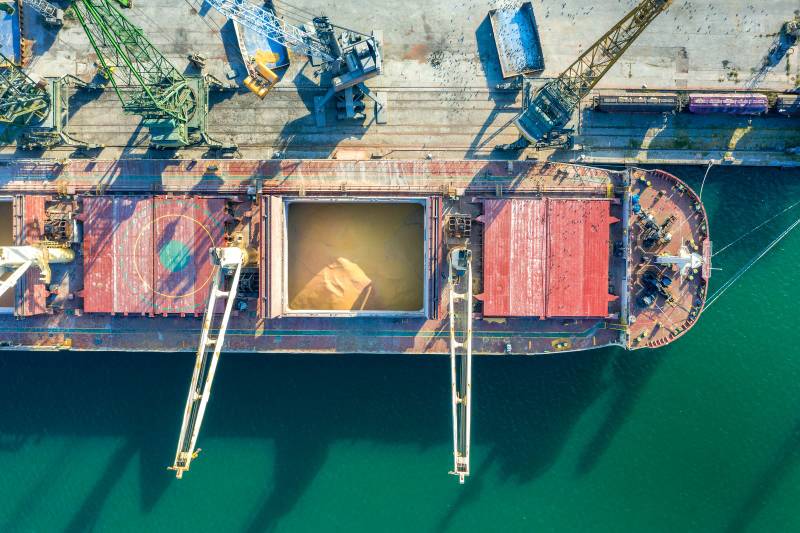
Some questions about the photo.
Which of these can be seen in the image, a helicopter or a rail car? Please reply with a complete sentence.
There is a rail car in the scene.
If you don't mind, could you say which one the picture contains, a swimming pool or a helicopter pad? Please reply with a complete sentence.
The image shows a helicopter pad.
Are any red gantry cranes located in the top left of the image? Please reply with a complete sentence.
No, no red gantry crane can be made out in the top left of the image.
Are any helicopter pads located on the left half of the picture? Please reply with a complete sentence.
Yes, a helicopter pad can be seen on the left half of the picture.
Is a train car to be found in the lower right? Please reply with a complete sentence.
No, in the lower right there is no train car.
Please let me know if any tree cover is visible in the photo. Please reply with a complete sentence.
No, tree cover can't be seen anywhere here.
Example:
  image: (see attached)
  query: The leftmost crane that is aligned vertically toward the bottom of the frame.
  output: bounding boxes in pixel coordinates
[167,238,262,476]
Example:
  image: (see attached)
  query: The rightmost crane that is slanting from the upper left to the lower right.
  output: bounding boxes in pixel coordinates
[181,0,388,127]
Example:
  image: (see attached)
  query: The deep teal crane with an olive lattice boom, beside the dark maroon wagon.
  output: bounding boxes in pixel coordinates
[480,0,675,152]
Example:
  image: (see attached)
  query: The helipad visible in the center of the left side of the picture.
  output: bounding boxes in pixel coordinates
[117,199,229,313]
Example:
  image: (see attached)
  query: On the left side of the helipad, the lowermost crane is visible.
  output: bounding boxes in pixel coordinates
[0,235,81,274]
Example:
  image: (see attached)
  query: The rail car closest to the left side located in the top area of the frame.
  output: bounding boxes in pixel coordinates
[586,92,684,114]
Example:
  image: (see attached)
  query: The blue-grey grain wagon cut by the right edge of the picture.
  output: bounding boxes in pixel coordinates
[764,92,800,114]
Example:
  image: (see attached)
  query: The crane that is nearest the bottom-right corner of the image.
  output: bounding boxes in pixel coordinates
[441,240,473,482]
